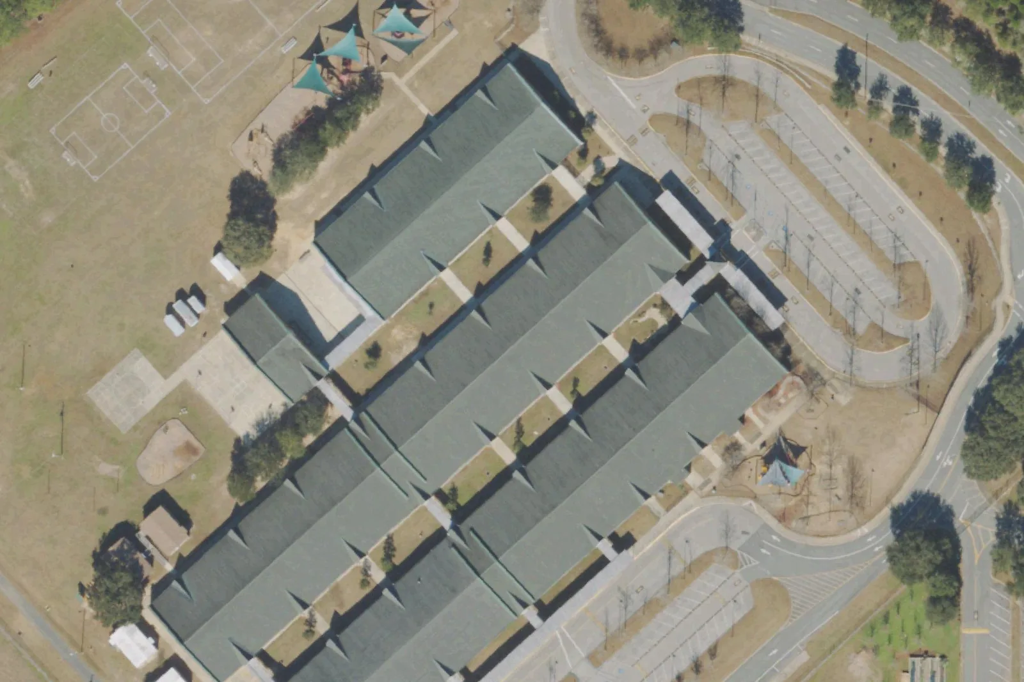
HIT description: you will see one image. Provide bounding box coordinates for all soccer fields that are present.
[52,64,169,178]
[116,0,324,102]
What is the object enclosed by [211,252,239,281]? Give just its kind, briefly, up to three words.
shed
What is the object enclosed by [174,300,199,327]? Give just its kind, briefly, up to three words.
shipping container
